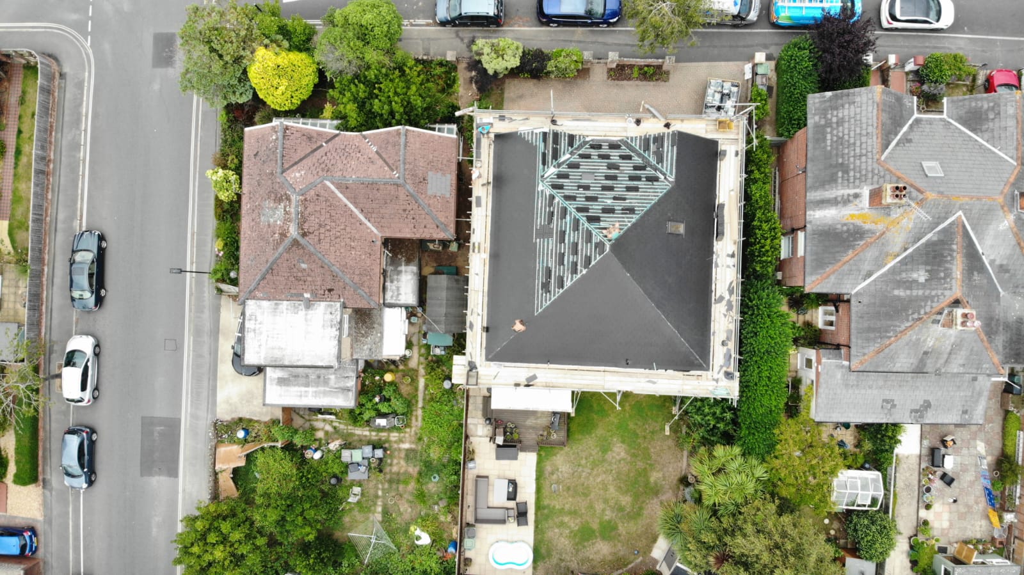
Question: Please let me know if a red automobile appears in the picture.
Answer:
Yes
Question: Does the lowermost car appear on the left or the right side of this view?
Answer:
left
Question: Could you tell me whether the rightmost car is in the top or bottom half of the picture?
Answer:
top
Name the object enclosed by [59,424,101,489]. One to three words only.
car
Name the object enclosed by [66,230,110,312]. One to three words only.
car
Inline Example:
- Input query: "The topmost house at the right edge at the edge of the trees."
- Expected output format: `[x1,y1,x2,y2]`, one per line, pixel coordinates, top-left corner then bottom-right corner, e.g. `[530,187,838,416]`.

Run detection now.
[778,86,1024,425]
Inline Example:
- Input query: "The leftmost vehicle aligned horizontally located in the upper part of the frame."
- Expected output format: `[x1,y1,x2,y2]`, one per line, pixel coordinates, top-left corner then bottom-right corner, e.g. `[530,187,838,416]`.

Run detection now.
[436,0,506,29]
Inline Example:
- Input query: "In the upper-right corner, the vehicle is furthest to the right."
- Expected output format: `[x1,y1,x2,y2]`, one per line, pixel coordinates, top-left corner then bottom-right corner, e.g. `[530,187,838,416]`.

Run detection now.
[984,71,1024,94]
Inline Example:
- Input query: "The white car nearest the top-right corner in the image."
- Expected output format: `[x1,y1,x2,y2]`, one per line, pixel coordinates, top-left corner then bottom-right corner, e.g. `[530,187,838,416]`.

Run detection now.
[878,0,952,31]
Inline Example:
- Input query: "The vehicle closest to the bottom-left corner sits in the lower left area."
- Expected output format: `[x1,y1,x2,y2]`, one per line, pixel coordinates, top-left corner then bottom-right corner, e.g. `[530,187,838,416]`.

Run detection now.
[0,525,40,559]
